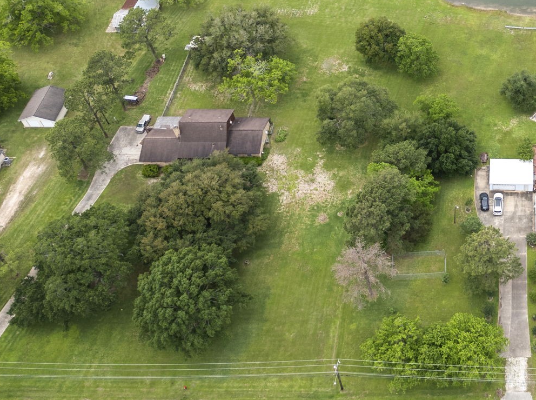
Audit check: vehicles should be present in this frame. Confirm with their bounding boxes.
[131,110,153,135]
[493,194,504,214]
[479,192,490,211]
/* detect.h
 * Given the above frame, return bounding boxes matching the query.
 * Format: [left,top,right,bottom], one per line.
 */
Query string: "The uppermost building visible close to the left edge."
[18,82,70,126]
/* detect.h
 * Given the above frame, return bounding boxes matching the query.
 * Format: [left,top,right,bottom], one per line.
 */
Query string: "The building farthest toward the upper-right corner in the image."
[490,159,533,191]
